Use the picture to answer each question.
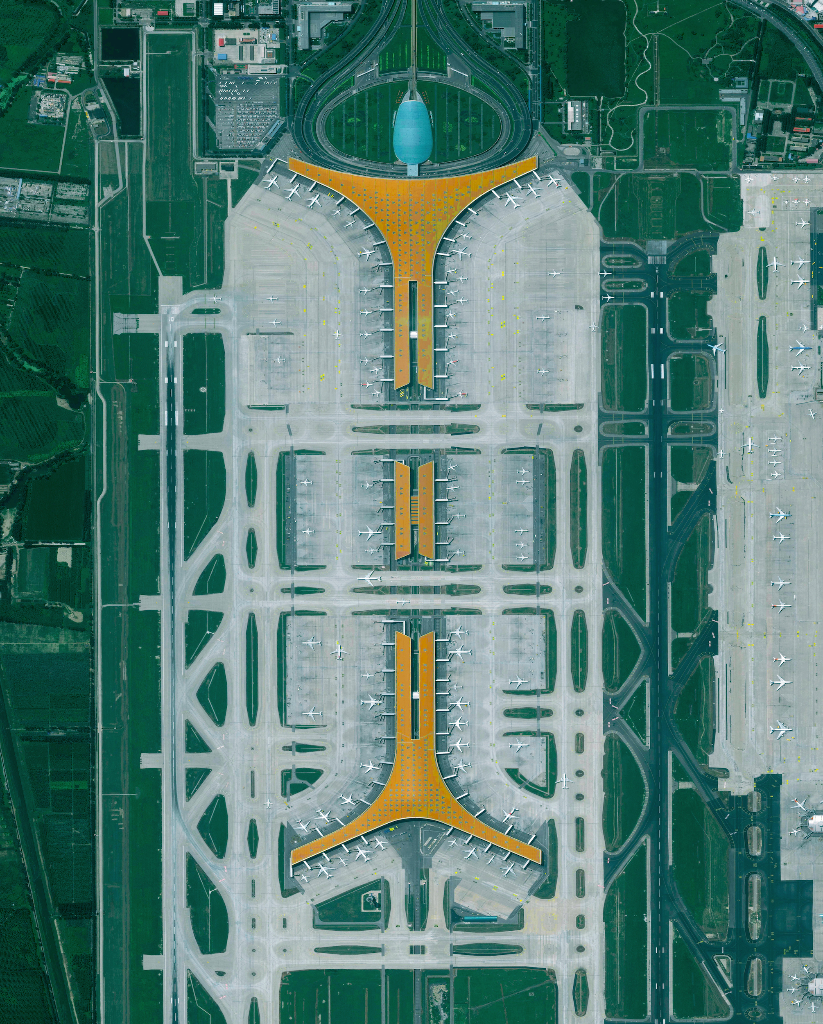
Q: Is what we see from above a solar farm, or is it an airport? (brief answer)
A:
airport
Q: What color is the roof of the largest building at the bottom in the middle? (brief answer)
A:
orange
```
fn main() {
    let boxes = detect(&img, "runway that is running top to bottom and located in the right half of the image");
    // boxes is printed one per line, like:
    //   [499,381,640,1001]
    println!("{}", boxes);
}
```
[649,255,669,1024]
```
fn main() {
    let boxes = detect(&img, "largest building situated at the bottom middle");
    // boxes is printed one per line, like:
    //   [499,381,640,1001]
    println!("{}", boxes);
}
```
[290,631,542,866]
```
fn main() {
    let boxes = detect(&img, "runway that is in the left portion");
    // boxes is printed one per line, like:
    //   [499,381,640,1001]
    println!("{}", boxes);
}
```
[161,305,185,1024]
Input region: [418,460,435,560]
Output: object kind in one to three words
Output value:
building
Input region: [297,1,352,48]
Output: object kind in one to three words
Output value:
building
